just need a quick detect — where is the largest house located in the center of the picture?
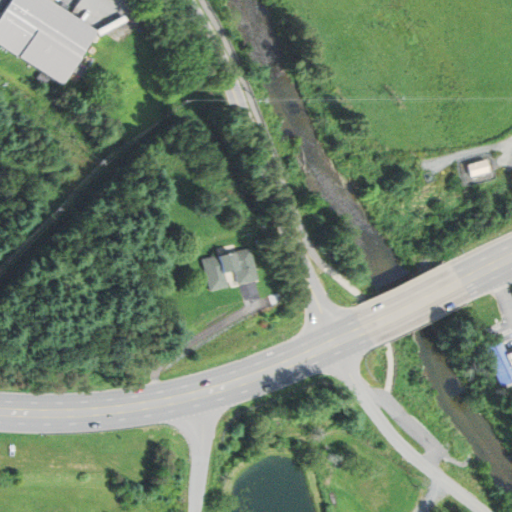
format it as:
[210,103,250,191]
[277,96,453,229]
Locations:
[202,248,260,292]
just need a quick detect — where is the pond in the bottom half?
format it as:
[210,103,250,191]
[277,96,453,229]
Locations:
[232,455,316,512]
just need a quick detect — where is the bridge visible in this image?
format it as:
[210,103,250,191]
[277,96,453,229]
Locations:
[352,264,468,350]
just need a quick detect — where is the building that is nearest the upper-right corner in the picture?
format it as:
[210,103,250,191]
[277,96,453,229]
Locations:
[468,159,493,178]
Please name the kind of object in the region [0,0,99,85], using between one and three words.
building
